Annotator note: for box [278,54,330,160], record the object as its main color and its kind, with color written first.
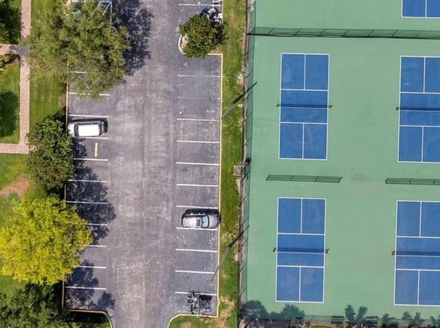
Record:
blue sports court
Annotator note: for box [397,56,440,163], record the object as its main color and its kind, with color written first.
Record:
blue sports court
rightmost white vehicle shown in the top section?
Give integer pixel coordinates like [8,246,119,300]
[70,121,107,140]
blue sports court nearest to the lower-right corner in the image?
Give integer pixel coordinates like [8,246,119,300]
[394,200,440,306]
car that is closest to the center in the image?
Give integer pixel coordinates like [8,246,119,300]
[182,211,219,231]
